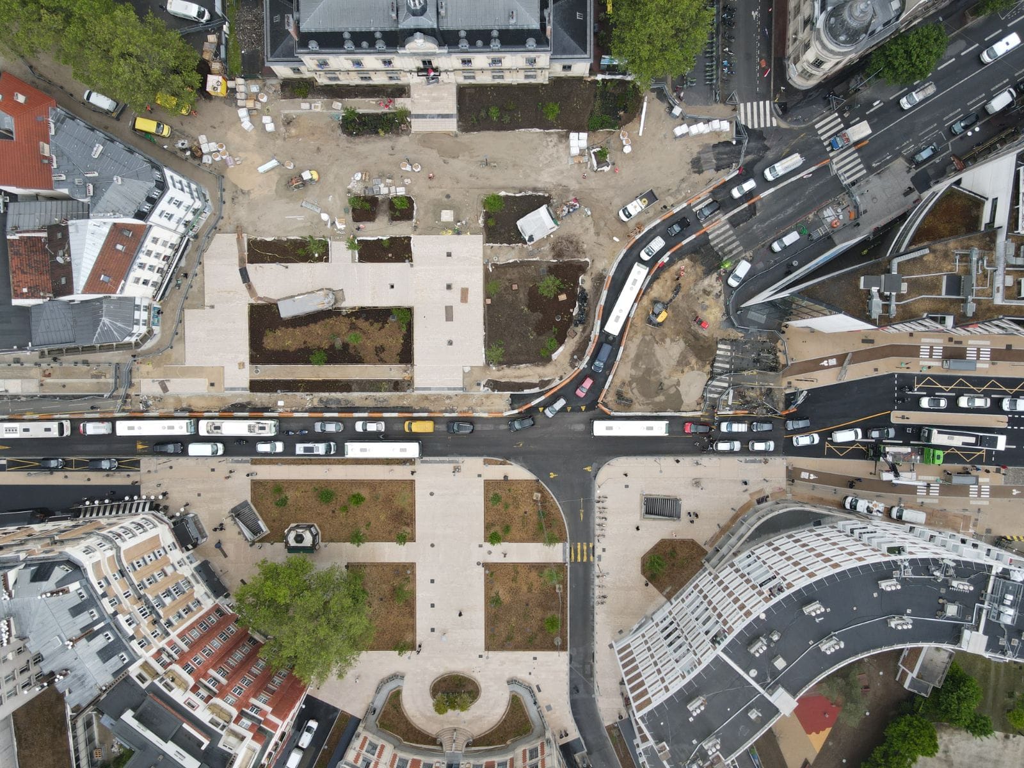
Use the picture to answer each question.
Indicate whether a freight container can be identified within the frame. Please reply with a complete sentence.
Yes, the image includes a freight container.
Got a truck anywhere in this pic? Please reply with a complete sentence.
Yes, a truck appears in the view.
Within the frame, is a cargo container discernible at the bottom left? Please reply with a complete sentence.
No, no cargo container appears at the bottom left.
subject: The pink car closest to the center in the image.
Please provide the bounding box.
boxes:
[574,374,596,398]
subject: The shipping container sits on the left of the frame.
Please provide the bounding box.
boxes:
[278,289,338,320]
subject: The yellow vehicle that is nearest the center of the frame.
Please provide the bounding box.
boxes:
[404,419,435,435]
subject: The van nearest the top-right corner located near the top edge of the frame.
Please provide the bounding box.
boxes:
[980,29,1024,62]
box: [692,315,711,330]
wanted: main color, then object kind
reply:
red vehicle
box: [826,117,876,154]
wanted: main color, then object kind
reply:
white truck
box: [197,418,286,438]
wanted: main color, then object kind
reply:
white bus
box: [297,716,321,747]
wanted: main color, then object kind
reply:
white car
